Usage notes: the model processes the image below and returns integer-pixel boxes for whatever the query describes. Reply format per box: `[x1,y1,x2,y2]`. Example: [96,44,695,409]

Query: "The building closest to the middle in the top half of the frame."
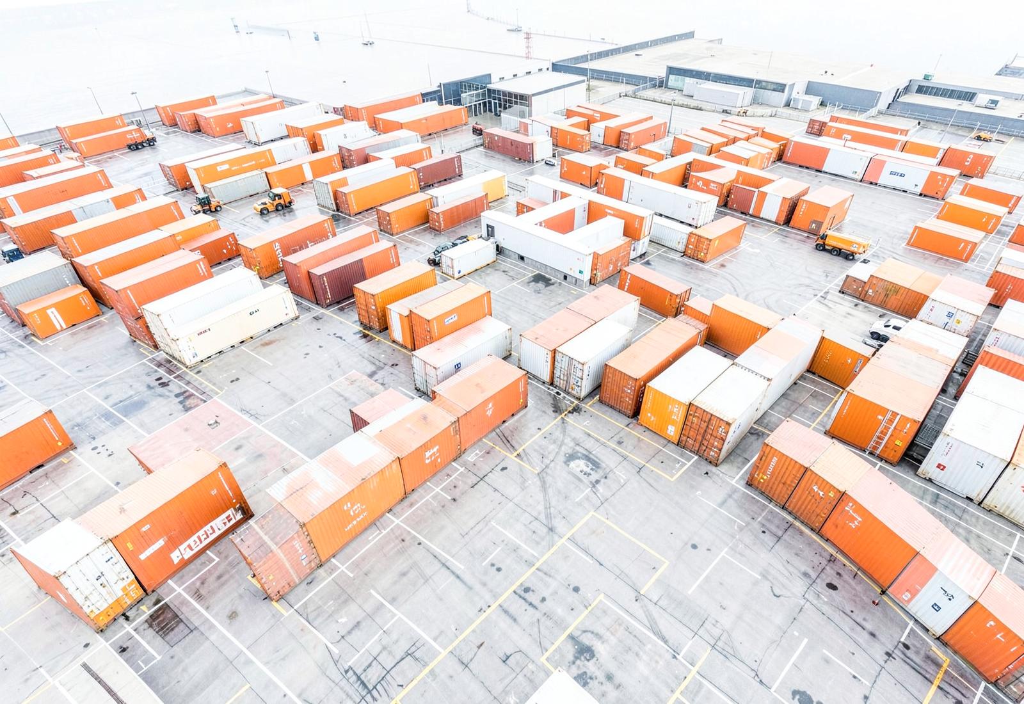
[481,208,601,289]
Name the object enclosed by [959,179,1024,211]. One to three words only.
shipping container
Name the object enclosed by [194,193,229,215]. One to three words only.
work vehicle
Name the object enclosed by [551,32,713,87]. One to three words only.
building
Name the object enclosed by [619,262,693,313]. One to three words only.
shipping container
